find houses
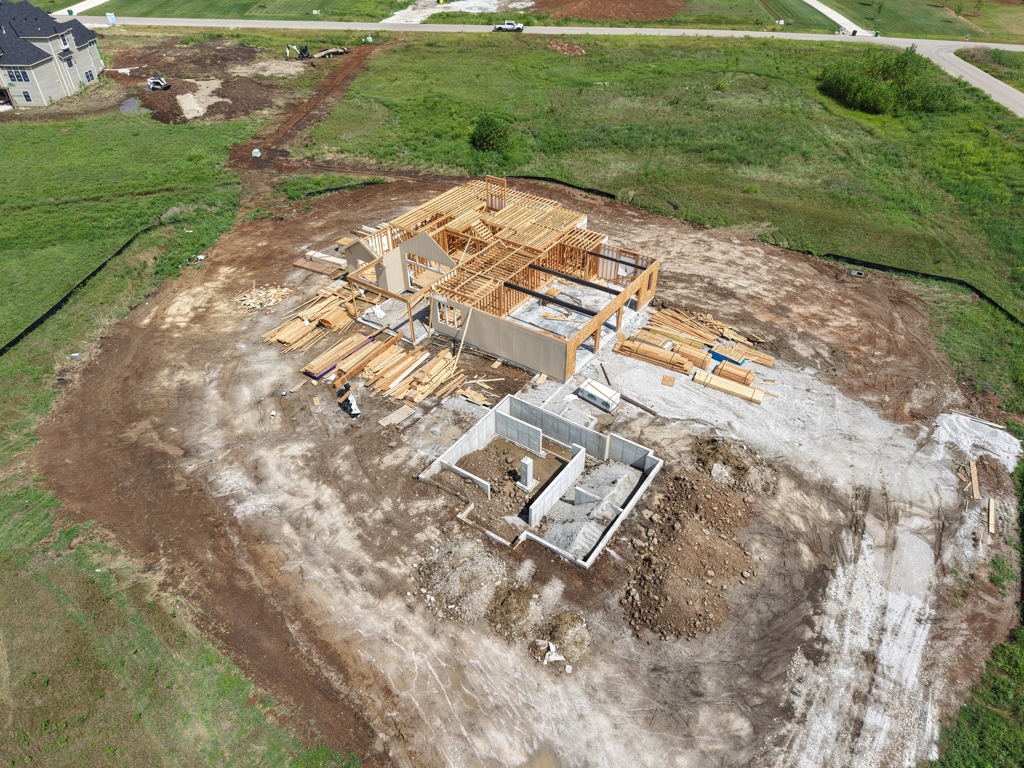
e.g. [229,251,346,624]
[0,1,112,109]
[333,174,661,385]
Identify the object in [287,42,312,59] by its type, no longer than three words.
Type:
work vehicle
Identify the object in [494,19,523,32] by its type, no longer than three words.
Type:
vehicle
